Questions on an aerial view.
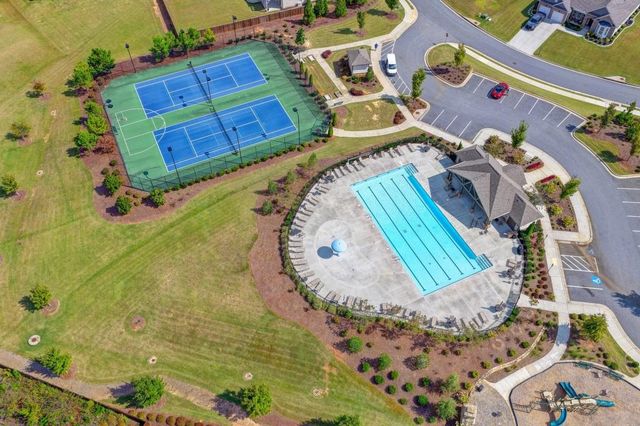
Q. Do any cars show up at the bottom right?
No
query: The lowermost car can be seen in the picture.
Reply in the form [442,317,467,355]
[490,82,509,99]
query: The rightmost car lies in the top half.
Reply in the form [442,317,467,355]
[528,12,544,28]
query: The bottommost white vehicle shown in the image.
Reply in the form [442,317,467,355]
[386,52,399,74]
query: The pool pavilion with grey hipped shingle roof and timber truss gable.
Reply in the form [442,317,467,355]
[444,143,544,237]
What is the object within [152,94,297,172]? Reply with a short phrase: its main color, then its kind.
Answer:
blue tennis court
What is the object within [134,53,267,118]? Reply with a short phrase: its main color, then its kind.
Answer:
blue tennis court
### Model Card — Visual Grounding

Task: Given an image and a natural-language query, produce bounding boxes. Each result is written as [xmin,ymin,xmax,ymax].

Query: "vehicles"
[386,52,399,74]
[490,82,509,99]
[528,12,544,28]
